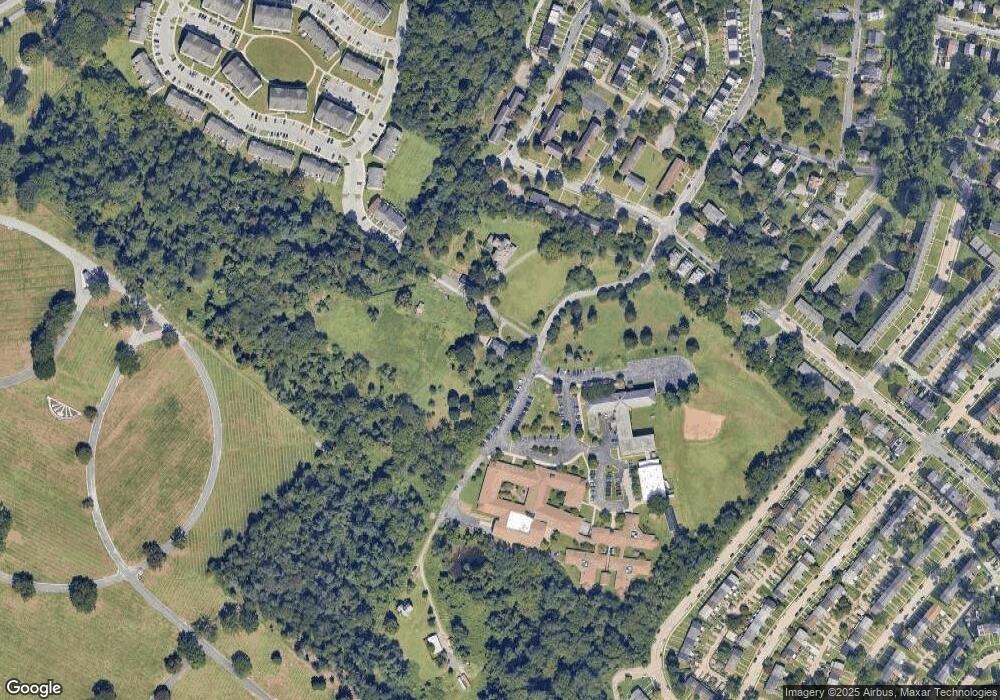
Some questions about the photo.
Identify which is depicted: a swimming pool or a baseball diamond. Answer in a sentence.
I can see a baseball diamond in this picture.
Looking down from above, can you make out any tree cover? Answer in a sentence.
Yes, there's tree cover in this view.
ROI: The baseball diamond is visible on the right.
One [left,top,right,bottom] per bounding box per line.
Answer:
[684,405,726,441]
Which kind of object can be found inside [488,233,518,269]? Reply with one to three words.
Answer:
house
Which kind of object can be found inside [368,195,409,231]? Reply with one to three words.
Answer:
building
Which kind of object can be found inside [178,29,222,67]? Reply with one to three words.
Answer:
building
